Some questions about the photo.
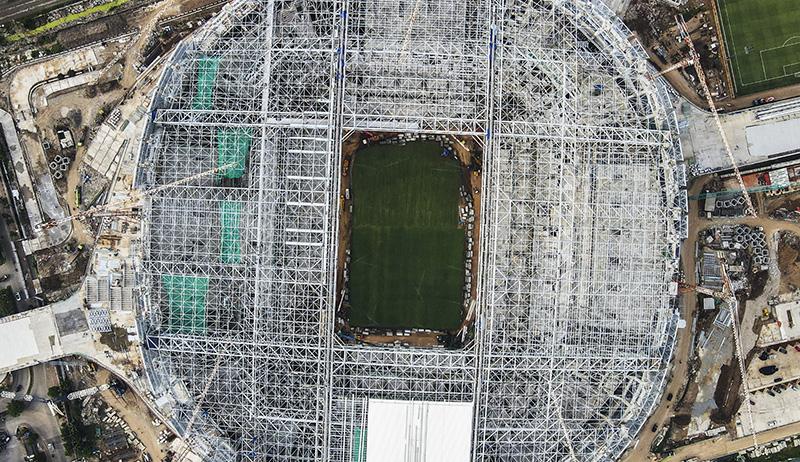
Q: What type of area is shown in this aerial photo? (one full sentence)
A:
The picture captures a sports ground.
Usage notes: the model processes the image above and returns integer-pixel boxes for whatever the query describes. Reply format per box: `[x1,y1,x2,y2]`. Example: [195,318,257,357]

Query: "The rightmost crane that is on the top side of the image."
[656,13,752,214]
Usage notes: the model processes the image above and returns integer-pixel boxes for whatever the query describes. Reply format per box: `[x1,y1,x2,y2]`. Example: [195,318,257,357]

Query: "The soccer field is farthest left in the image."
[344,134,467,337]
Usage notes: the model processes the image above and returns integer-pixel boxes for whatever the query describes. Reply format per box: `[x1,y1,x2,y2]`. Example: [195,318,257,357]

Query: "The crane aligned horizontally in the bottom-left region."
[0,378,126,403]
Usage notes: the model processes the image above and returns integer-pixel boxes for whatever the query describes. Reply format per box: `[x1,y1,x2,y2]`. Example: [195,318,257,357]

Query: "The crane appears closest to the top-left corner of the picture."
[38,163,237,224]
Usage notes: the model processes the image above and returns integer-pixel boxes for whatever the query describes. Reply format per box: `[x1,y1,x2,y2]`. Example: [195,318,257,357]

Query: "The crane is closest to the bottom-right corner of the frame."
[681,252,763,451]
